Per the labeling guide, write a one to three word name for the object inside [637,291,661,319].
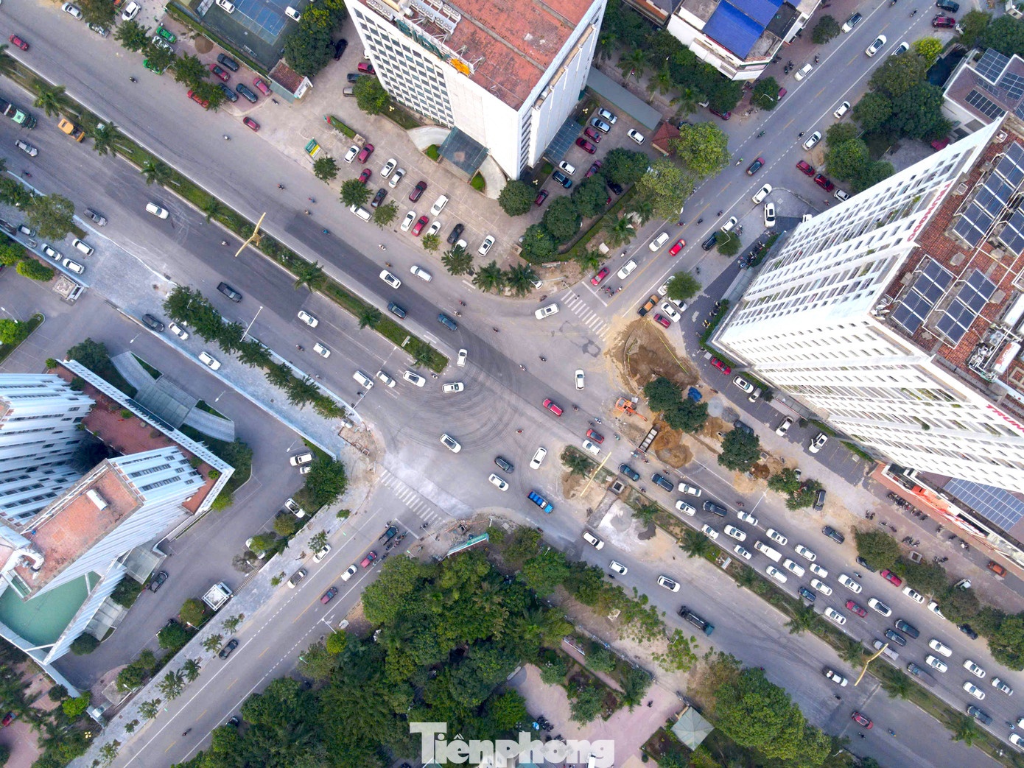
truck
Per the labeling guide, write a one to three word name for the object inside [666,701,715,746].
tent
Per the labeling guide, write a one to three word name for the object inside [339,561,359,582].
car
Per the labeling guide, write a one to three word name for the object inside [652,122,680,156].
shed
